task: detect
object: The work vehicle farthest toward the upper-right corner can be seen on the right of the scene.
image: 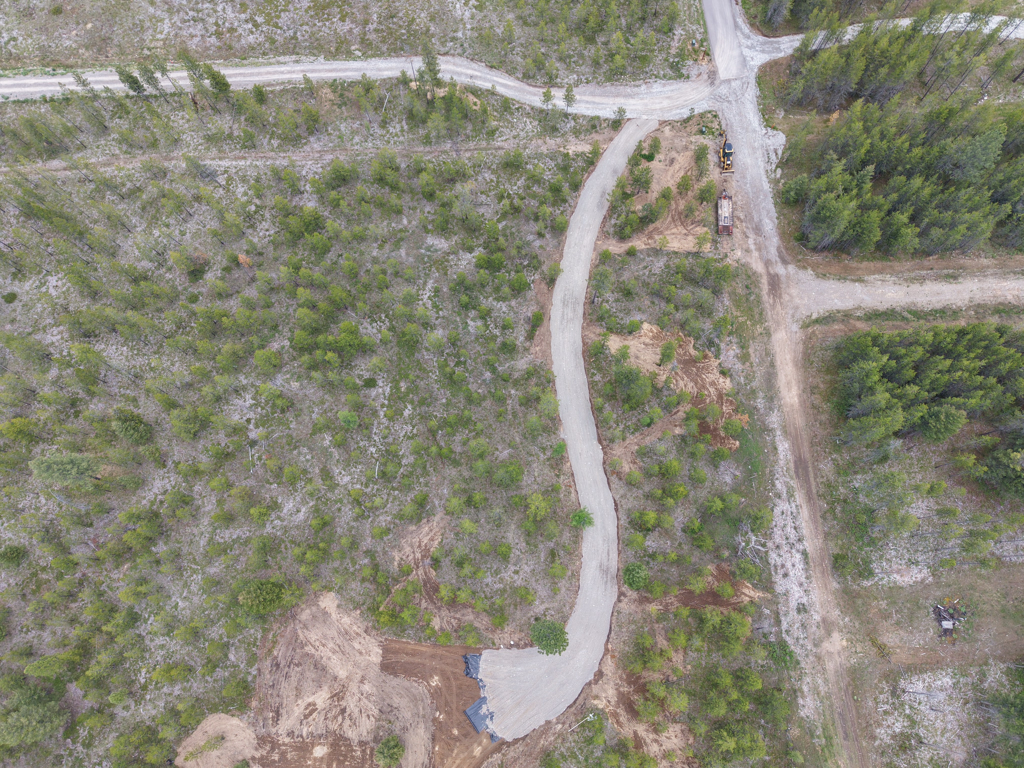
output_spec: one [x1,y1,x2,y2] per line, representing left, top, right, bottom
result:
[717,130,736,179]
